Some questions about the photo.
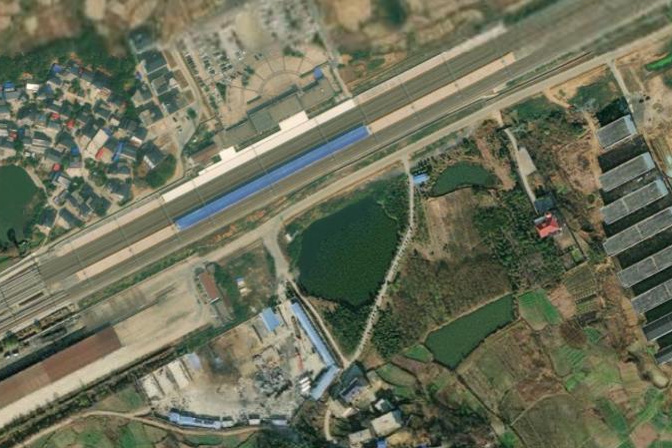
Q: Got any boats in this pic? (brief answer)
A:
No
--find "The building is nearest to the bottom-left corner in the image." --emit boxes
[0,323,122,408]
